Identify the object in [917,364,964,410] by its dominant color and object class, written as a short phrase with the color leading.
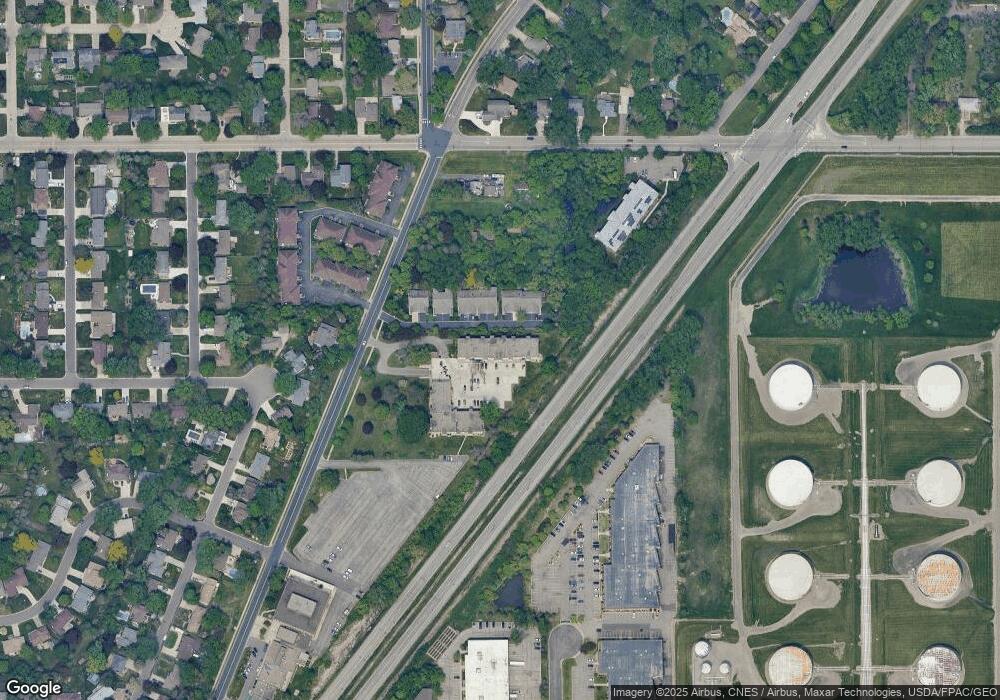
white storage tank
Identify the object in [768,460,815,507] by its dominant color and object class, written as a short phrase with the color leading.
white storage tank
